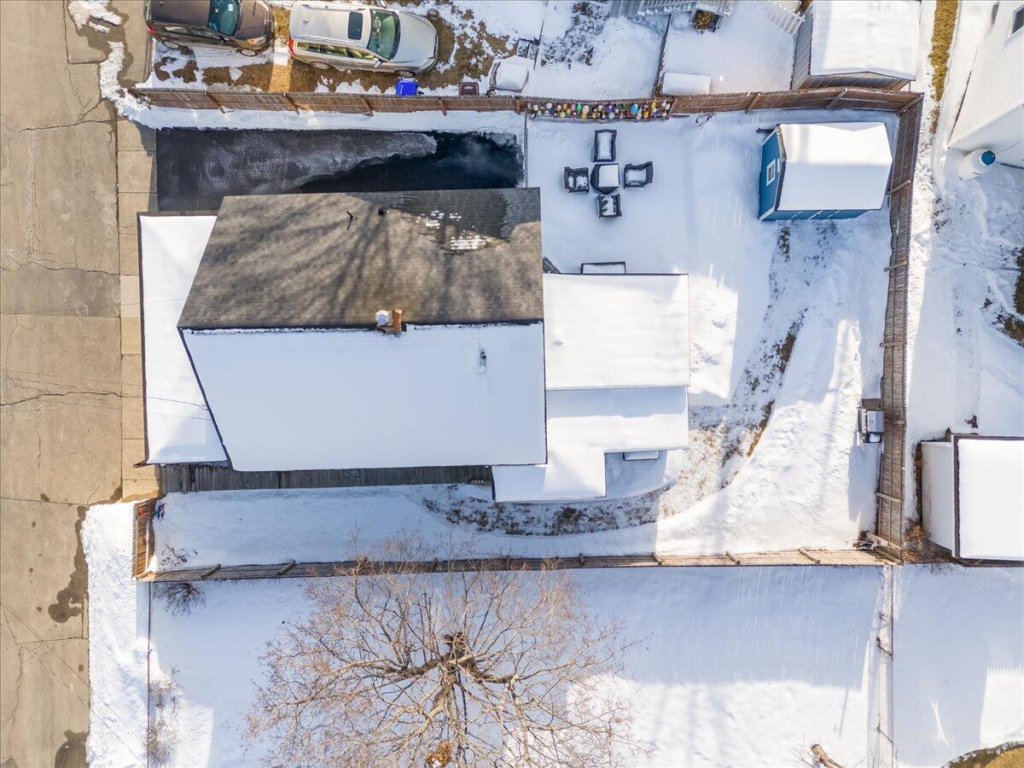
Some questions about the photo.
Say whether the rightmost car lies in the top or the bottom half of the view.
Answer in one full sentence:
It is in the top half that the rightmost car appears.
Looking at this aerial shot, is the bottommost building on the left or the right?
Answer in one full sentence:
The bottommost building appears in the right half of the scene.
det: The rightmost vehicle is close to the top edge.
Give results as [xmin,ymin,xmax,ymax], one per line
[286,0,440,72]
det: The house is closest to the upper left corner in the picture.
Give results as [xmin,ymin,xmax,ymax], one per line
[137,186,689,502]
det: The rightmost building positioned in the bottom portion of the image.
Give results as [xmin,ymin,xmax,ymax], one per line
[922,434,1024,562]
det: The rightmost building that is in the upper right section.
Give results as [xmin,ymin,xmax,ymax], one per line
[949,0,1024,169]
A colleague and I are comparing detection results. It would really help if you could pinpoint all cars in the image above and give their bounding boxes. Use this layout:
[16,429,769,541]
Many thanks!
[144,0,281,49]
[286,0,440,72]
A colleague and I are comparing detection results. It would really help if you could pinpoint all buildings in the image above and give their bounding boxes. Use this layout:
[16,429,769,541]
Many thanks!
[793,0,919,92]
[922,434,1024,562]
[949,0,1024,169]
[137,186,689,502]
[761,122,892,220]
